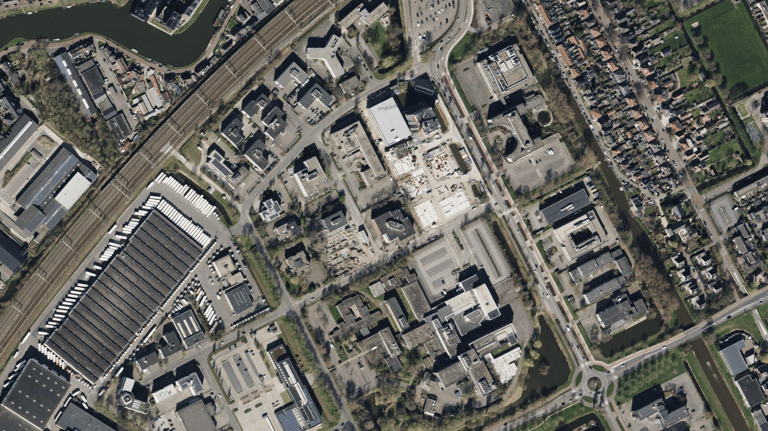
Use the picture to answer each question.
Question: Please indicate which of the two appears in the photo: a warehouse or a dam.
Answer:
warehouse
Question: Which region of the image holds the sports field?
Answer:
top right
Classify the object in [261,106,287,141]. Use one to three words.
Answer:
building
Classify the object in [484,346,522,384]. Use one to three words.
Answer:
building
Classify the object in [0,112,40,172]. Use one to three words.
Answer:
shed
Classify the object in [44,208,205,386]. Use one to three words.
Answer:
warehouse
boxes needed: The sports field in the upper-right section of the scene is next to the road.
[686,0,768,99]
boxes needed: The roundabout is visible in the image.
[576,365,614,403]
